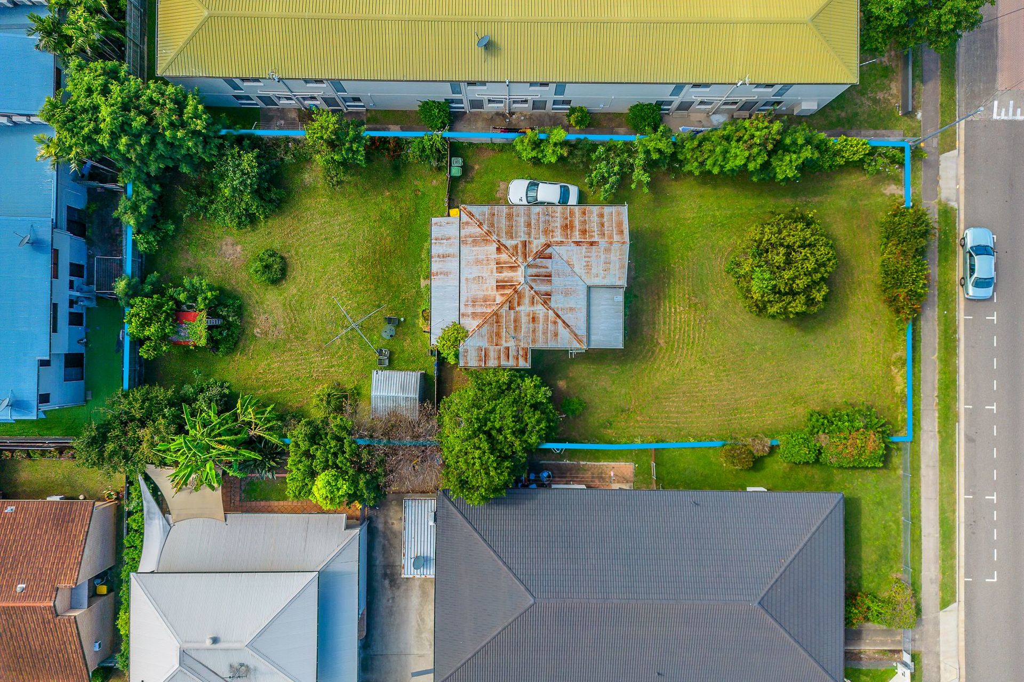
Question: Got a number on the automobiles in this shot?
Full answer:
The photo contains 2 automobiles.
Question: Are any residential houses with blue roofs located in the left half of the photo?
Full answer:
Yes, I can see a residential house with a blue roof in the left half of the photo.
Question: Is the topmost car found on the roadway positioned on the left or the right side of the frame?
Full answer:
The topmost car found on the roadway sits on the right side.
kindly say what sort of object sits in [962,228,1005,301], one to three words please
car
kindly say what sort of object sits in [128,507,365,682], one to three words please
house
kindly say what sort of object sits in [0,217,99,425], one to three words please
house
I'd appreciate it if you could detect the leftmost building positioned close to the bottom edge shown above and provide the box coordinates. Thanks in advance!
[0,487,115,682]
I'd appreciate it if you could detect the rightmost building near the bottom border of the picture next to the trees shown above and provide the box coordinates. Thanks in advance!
[438,483,847,682]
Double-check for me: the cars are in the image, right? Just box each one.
[962,228,1005,301]
[507,175,581,202]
